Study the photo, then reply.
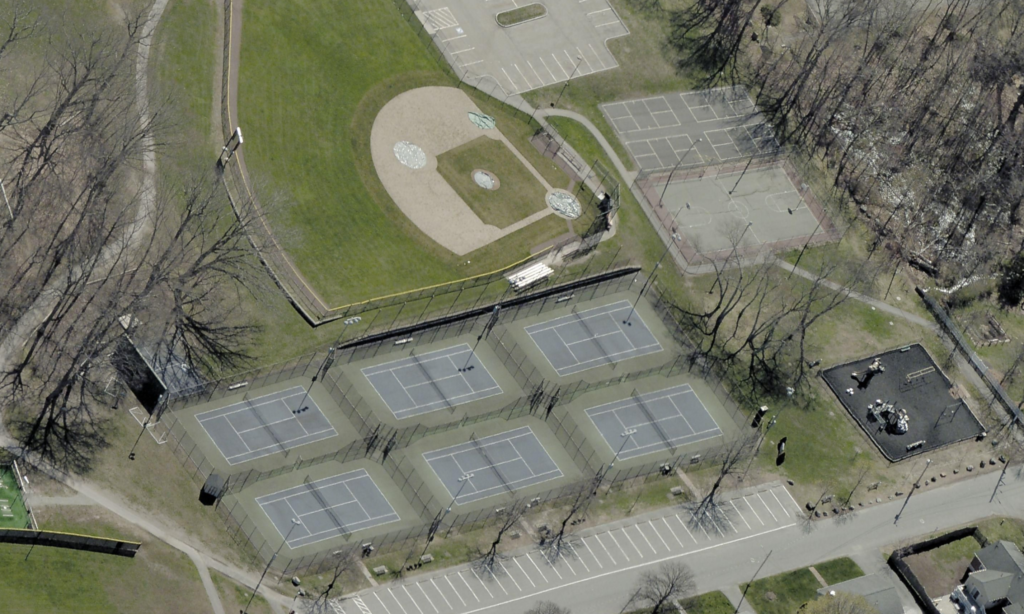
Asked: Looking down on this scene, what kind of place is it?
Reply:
sports ground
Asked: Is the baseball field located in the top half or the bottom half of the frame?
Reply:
top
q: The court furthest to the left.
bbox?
[136,336,203,398]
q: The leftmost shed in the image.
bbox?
[201,478,229,503]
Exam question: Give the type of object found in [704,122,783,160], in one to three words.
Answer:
tennis court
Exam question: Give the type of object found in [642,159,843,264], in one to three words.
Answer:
basketball court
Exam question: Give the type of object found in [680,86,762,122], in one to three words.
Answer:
tennis court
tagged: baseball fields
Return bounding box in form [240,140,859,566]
[225,0,605,313]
